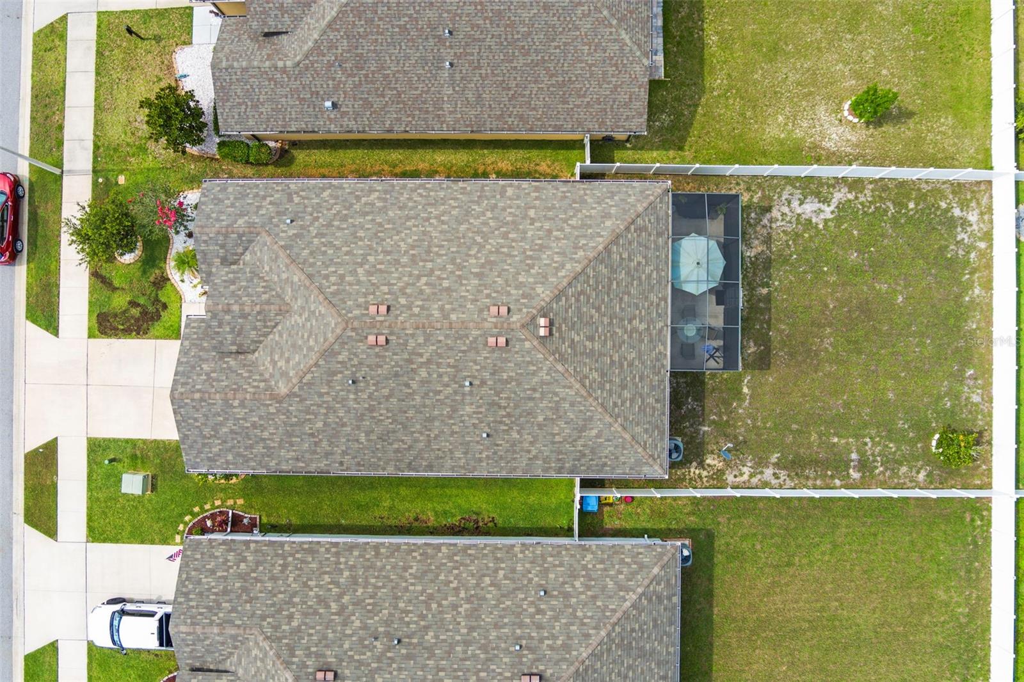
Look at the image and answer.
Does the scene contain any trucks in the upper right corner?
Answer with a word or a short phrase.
No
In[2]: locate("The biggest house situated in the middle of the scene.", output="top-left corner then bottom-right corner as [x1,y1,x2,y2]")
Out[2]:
[171,180,669,475]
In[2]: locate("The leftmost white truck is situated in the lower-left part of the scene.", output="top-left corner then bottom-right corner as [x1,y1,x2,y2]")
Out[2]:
[87,595,176,656]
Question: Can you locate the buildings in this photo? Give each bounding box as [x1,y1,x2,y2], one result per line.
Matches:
[171,510,681,682]
[171,180,669,475]
[188,0,652,140]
